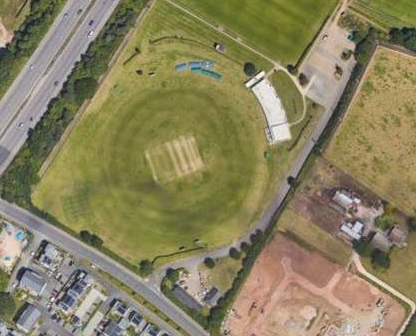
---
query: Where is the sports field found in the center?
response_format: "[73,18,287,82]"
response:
[34,0,311,276]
